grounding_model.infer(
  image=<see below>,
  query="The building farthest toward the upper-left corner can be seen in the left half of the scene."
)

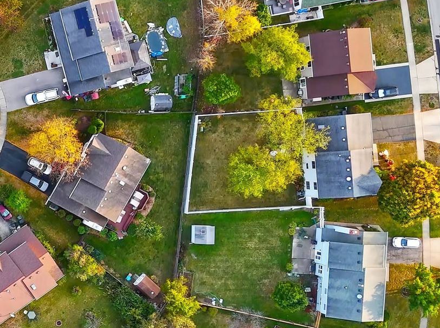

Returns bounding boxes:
[51,0,135,95]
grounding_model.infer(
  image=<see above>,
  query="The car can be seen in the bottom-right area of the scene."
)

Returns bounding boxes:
[390,236,421,249]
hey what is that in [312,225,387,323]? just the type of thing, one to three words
house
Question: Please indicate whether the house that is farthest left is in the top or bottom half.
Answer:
bottom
